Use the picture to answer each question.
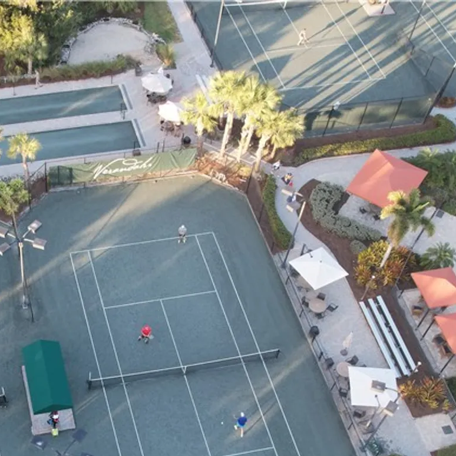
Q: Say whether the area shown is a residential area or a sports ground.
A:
sports ground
